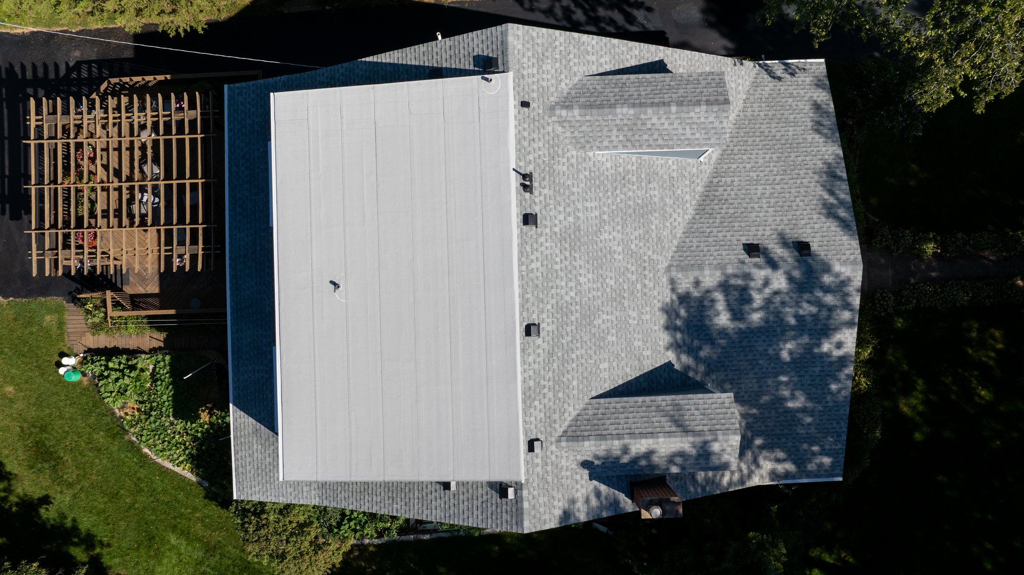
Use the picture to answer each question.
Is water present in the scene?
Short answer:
No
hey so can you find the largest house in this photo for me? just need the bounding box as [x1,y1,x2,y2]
[221,23,861,533]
